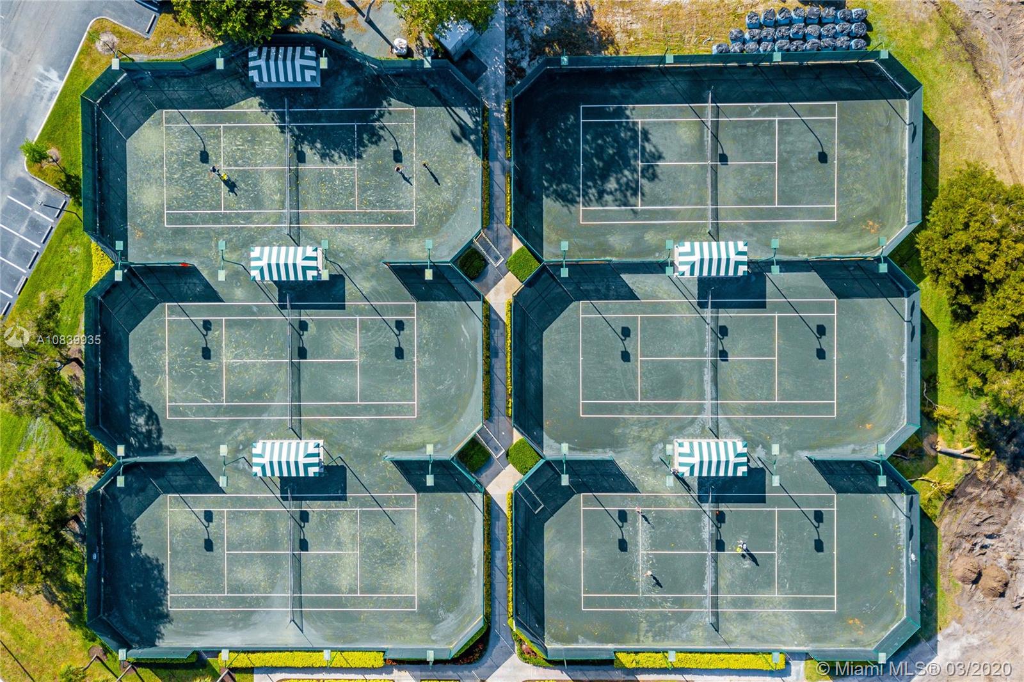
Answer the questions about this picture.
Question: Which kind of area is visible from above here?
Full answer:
The picture captures a sports ground.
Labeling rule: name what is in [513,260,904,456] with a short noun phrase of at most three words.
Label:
tennis court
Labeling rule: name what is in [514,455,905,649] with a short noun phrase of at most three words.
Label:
tennis court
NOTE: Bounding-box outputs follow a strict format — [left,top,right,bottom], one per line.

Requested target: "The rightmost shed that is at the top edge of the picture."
[420,1,483,67]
